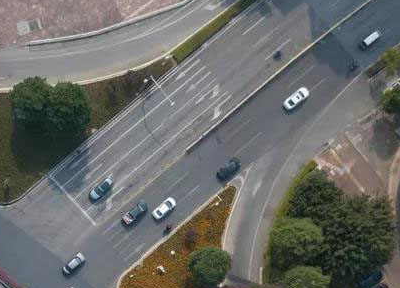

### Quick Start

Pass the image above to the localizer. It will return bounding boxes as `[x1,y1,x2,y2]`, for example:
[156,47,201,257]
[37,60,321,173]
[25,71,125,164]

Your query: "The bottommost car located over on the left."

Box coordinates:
[61,252,86,275]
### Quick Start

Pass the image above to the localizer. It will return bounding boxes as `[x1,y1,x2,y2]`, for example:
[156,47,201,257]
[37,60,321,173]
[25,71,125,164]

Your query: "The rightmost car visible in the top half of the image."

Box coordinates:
[377,75,400,97]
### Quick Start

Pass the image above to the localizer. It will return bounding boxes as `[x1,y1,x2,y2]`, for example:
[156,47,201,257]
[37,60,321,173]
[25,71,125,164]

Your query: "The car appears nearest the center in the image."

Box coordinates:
[214,157,241,181]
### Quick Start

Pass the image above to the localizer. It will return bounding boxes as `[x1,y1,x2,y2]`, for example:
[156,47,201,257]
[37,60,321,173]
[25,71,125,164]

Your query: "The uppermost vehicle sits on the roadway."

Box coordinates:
[356,27,384,51]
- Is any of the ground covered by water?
No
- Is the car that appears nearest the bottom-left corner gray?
Yes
